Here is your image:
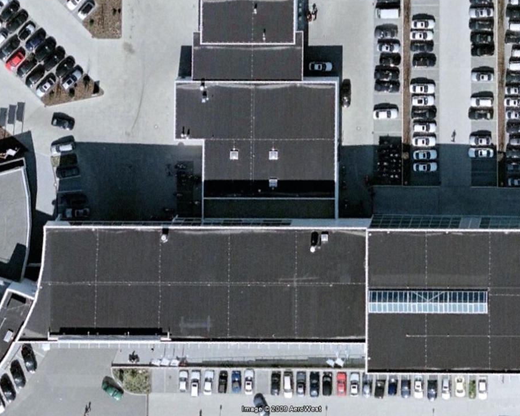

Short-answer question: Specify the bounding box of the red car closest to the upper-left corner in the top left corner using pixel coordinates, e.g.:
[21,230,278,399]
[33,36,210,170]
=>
[5,51,25,70]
